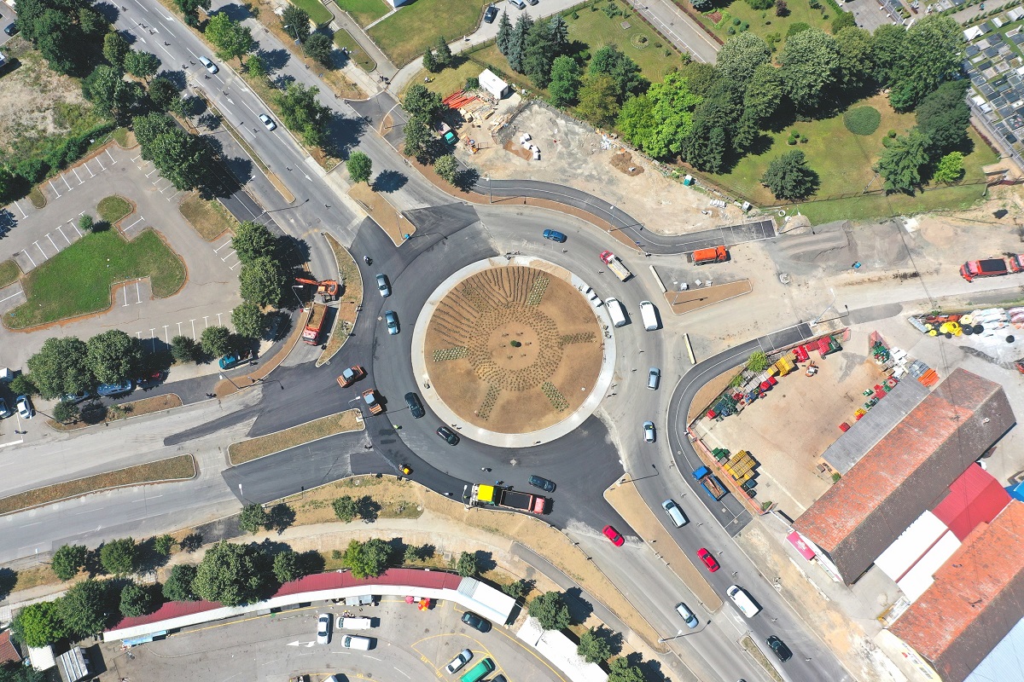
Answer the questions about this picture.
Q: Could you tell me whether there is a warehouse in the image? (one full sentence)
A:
Yes, this view includes a warehouse.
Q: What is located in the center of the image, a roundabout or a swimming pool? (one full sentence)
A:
You can see a roundabout in the center of the image.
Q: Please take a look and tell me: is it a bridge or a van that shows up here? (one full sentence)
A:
Of the two, only a van appears.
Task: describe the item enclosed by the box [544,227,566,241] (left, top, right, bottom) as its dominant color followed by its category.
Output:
blue car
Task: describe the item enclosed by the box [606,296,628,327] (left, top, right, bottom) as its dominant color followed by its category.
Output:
white vehicle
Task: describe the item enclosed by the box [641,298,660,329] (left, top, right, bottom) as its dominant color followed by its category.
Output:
white vehicle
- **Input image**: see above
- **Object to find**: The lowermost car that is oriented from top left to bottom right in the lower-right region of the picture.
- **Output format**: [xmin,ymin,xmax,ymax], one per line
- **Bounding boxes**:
[767,634,793,665]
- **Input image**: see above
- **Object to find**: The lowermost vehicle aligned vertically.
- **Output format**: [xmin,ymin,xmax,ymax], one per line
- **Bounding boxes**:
[315,613,330,645]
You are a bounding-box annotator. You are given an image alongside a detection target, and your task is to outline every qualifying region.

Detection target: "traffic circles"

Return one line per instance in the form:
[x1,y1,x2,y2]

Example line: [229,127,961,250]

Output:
[222,201,640,541]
